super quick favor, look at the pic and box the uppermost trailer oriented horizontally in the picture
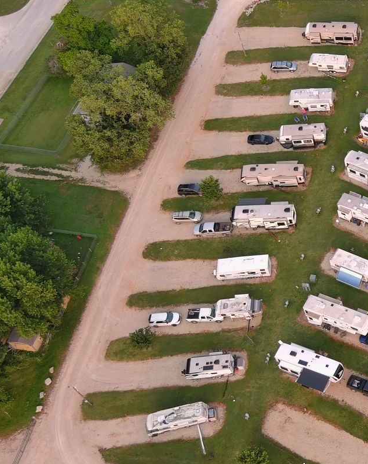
[303,23,359,46]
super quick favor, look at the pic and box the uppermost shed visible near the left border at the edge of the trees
[7,321,46,352]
